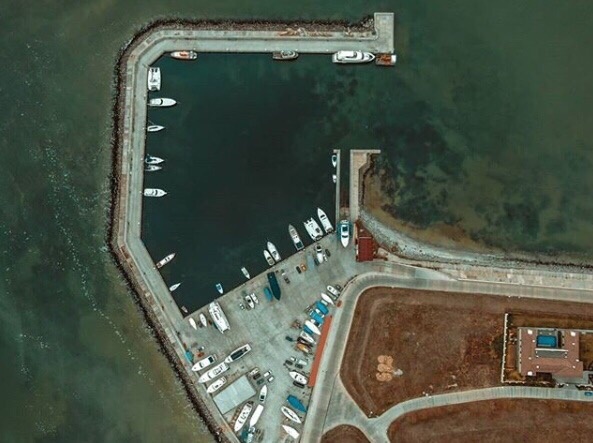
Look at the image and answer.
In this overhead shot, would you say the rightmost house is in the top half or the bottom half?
bottom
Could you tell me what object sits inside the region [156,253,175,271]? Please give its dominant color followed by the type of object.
white boat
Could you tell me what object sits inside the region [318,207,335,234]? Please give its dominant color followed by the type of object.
white boat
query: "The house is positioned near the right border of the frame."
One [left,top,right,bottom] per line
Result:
[518,326,584,379]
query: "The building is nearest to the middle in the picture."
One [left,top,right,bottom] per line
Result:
[358,237,374,261]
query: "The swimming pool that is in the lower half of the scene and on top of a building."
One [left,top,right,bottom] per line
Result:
[537,335,557,347]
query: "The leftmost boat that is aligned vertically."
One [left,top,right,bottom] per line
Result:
[148,63,161,91]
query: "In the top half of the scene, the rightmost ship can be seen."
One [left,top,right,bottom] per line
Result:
[374,53,397,66]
